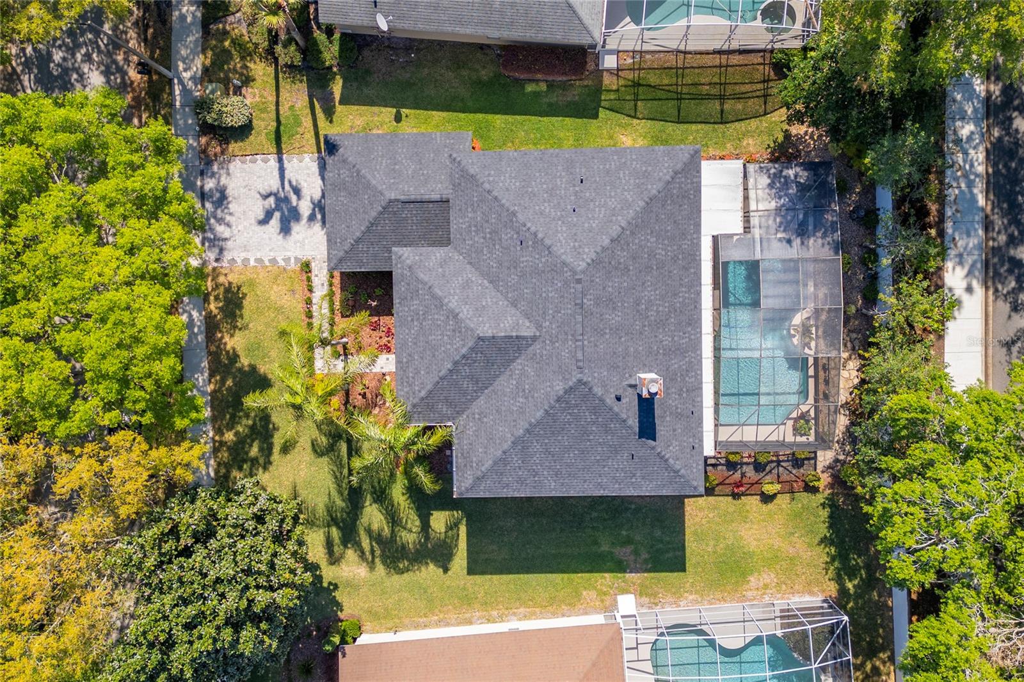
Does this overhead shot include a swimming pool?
Yes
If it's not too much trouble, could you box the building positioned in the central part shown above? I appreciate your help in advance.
[323,131,706,499]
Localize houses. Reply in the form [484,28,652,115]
[323,131,706,499]
[317,0,603,51]
[338,614,627,682]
